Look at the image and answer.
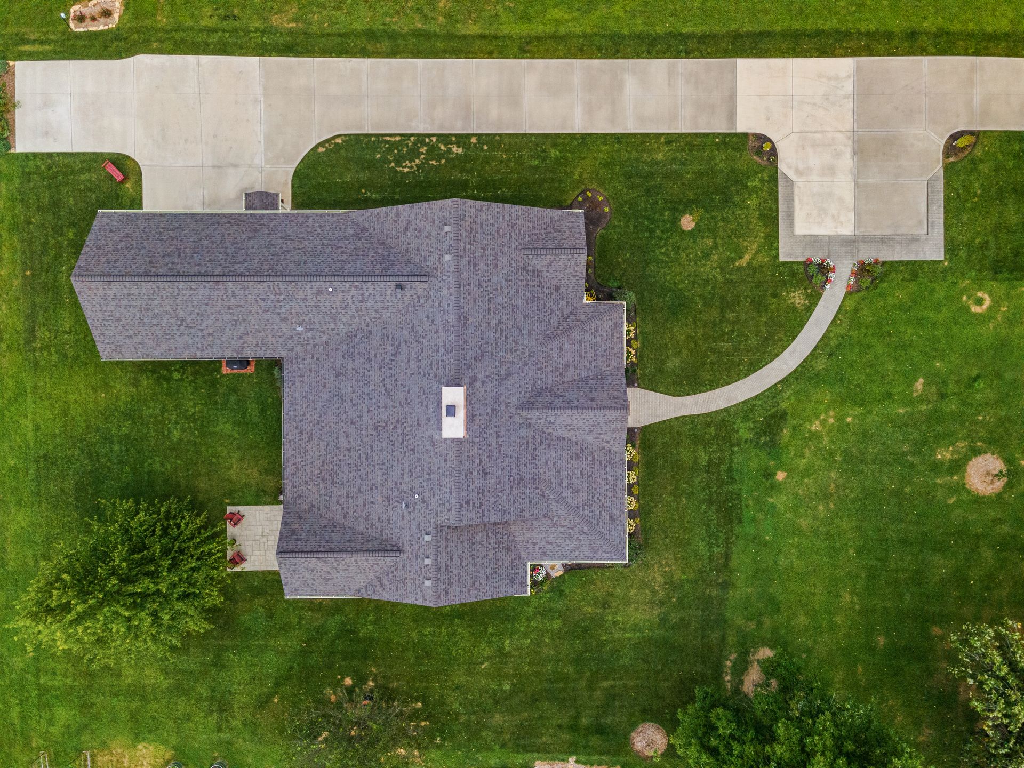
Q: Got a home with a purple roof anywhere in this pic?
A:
No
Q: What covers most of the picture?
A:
grass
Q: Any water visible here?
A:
No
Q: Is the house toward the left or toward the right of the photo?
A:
left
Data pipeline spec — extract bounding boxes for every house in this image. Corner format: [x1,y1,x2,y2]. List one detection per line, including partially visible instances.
[71,191,628,607]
